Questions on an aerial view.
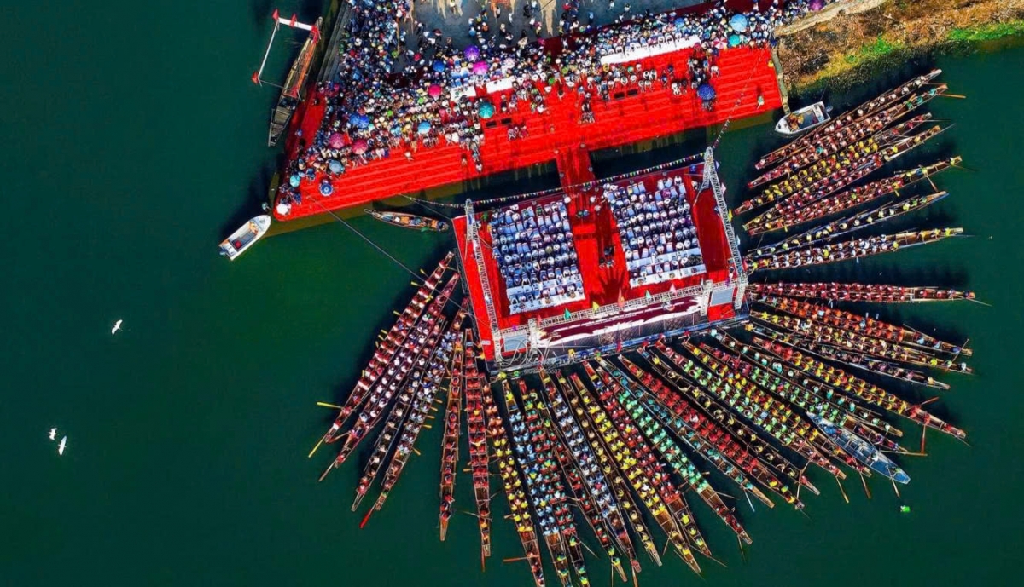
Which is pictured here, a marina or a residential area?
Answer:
marina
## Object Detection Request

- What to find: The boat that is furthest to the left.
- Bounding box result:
[219,217,269,263]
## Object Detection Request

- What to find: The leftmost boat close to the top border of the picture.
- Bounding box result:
[253,8,322,148]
